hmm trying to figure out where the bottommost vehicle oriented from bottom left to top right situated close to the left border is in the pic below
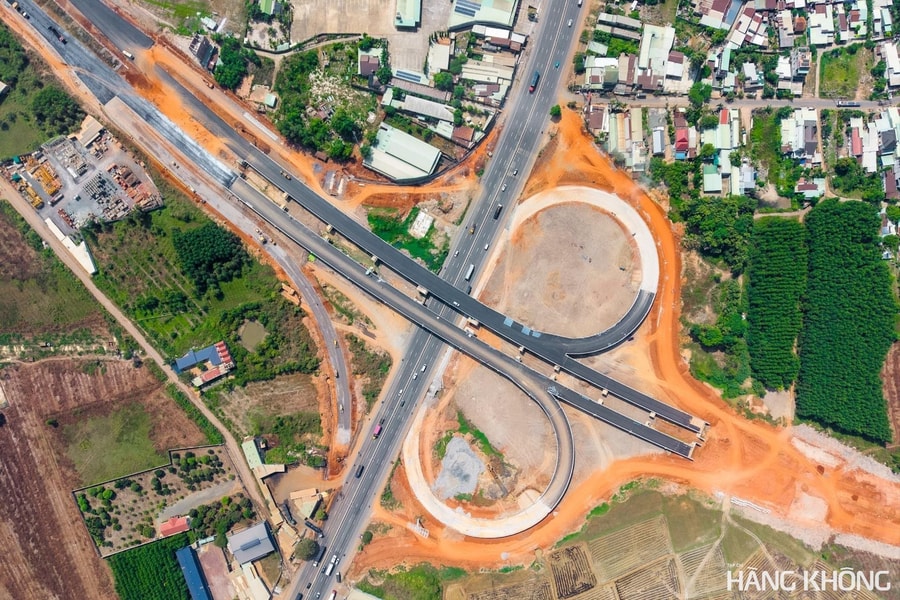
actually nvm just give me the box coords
[45,192,65,206]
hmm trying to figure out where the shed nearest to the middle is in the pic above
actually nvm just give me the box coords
[409,212,433,239]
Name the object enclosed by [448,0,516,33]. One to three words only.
building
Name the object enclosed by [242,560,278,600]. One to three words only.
shed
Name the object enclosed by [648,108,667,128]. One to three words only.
house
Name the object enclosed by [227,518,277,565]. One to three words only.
building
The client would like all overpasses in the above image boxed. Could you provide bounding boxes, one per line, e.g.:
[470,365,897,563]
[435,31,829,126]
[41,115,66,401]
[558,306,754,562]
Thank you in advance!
[228,173,702,464]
